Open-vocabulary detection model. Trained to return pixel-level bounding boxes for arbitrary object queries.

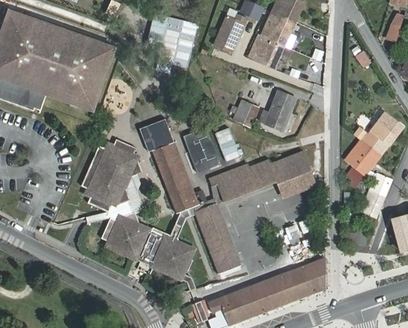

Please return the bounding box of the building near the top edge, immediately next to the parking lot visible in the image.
[0,9,114,112]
